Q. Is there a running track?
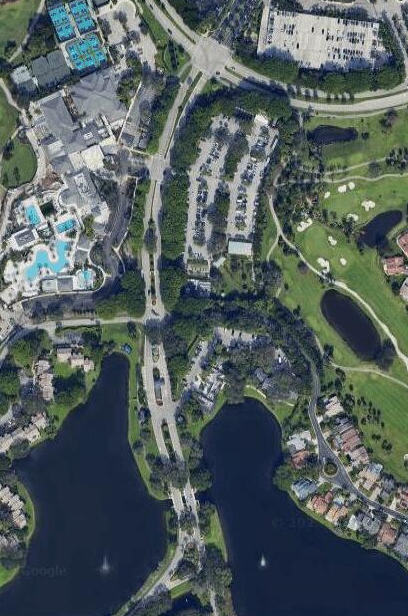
No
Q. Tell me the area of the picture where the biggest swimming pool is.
left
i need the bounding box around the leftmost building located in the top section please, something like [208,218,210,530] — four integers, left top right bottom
[9,226,39,252]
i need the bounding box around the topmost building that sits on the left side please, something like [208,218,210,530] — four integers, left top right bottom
[74,66,125,116]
